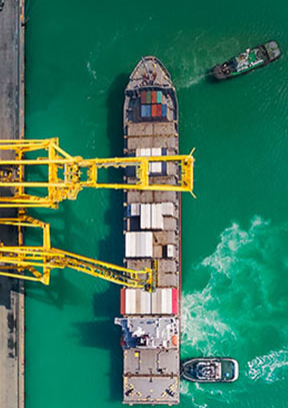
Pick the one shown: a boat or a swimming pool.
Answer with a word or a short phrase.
boat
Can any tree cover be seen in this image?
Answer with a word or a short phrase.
No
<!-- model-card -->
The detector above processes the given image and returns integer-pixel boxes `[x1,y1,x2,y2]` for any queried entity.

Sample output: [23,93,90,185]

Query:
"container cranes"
[0,135,193,210]
[0,210,150,289]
